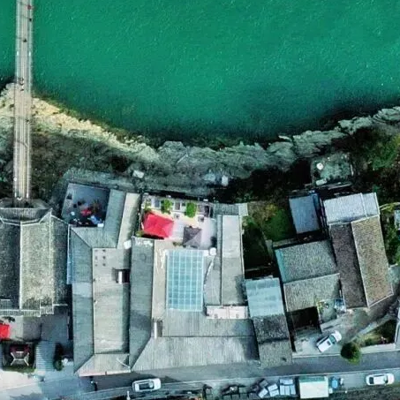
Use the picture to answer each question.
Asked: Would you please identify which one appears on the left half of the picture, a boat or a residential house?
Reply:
residential house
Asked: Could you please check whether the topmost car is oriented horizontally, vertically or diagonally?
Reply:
diagonally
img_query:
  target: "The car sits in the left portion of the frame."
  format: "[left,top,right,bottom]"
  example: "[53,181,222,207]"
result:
[133,378,161,393]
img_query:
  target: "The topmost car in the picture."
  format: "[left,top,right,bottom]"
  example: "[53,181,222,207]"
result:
[316,331,343,354]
